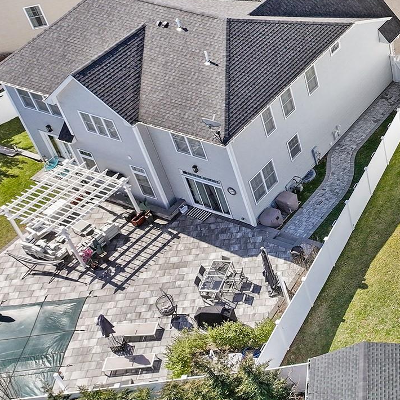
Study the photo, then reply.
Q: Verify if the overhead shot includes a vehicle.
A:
No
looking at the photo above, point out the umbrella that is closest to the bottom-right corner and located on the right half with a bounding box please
[258,248,282,295]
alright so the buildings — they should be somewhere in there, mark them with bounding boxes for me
[305,330,400,400]
[0,0,400,225]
